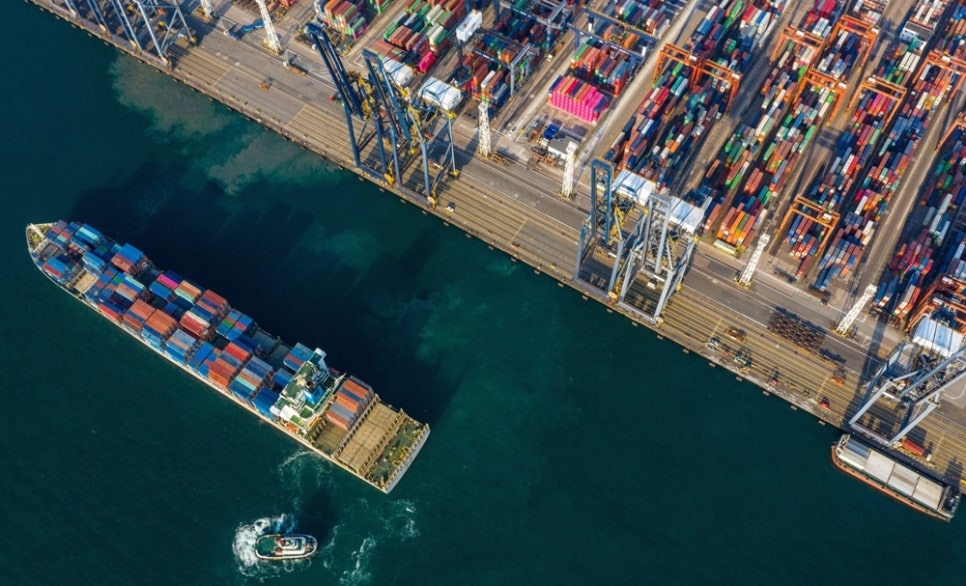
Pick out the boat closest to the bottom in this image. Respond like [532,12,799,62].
[257,534,319,559]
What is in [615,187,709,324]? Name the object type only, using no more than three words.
container crane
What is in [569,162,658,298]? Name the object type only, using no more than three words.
container crane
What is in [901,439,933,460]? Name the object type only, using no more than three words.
truck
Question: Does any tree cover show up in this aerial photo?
No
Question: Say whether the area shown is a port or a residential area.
port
